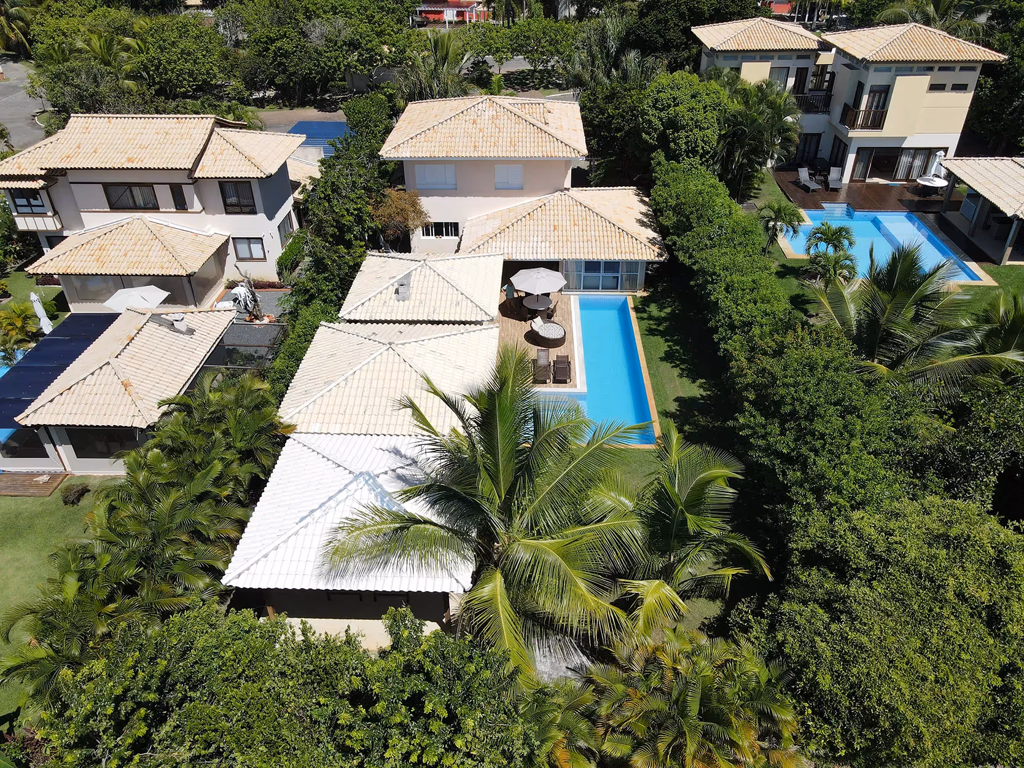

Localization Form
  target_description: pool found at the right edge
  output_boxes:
[766,203,998,286]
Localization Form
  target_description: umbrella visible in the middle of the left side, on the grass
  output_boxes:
[29,290,51,335]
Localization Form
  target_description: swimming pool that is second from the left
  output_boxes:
[507,294,664,450]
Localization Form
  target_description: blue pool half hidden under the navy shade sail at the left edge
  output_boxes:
[0,346,29,374]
